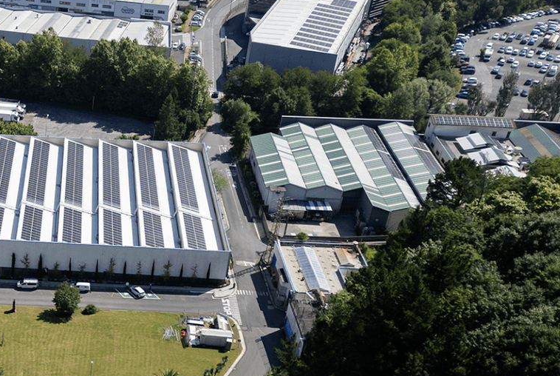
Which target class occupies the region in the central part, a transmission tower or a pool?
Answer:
transmission tower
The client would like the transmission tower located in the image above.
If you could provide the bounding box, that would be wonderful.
[261,184,291,267]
